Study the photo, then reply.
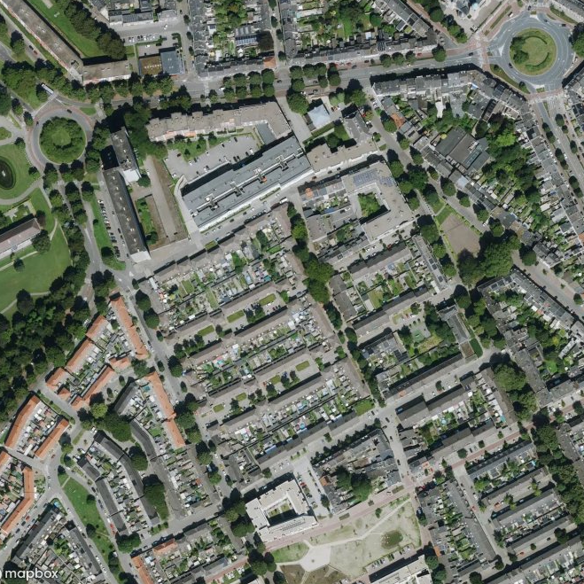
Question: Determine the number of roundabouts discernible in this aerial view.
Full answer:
There are 2 roundabouts in the image.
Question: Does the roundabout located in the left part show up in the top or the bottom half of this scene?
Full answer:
Seen from above, the roundabout located in the left part lies in the top half of the view.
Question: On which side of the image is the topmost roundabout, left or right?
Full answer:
It is on the right.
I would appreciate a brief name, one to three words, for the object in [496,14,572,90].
roundabout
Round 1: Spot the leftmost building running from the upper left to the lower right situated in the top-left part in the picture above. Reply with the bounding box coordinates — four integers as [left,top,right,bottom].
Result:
[0,0,83,73]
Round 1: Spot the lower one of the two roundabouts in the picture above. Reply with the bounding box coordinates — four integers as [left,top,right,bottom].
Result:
[25,102,101,177]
